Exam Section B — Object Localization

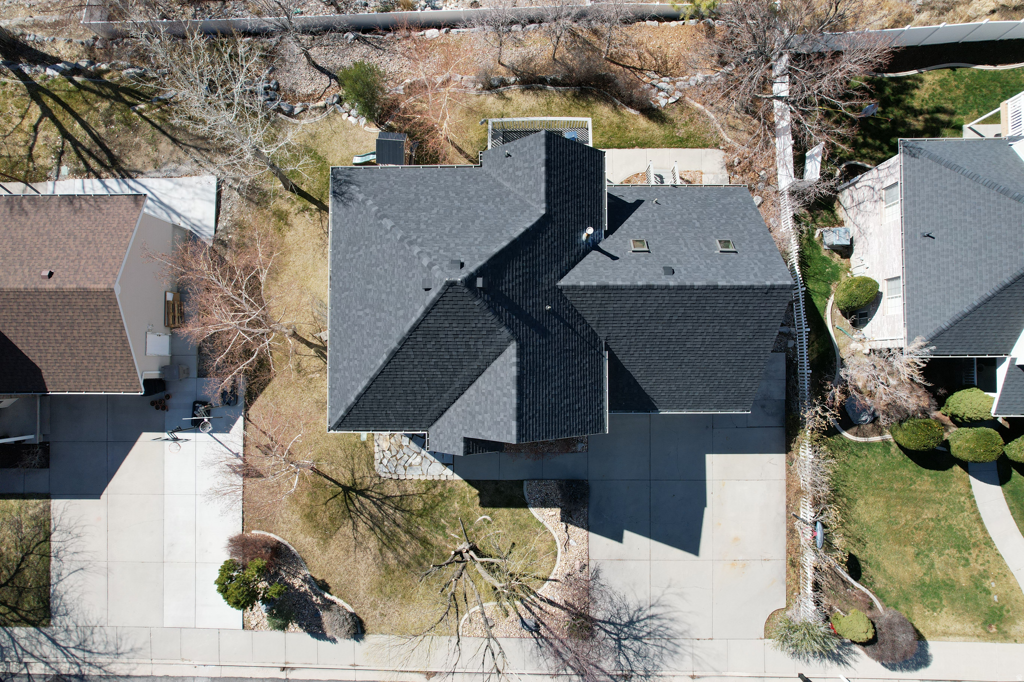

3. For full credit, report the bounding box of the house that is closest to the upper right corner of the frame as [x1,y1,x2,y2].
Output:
[839,122,1024,418]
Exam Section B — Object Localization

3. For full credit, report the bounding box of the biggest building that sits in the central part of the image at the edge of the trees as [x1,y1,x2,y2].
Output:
[329,134,790,457]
